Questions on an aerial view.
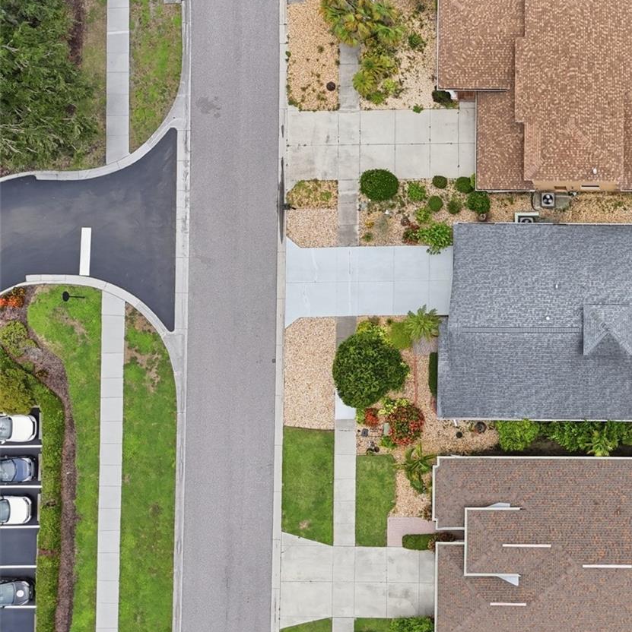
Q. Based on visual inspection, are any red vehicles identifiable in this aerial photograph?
No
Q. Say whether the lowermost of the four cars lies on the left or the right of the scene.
left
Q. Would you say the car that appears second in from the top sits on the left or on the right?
left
